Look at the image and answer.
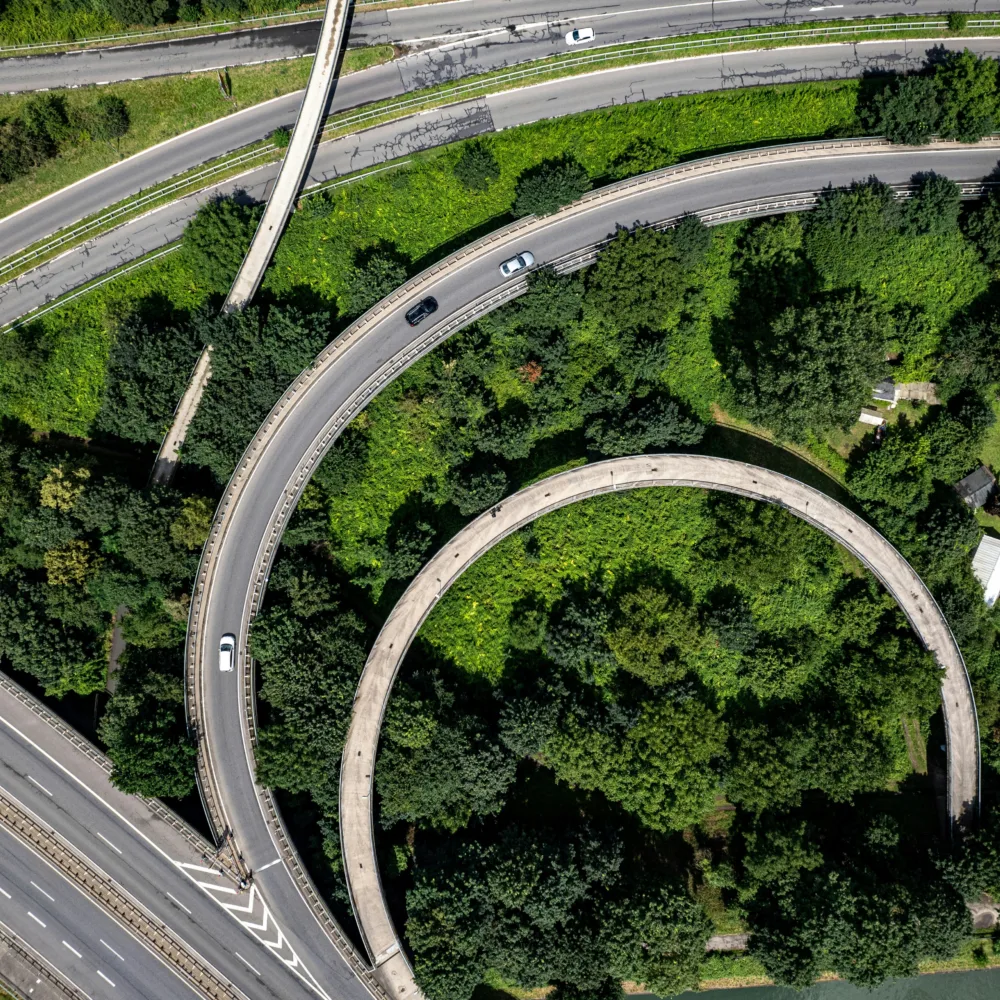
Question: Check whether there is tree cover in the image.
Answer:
Yes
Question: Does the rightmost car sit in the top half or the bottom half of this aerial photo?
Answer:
top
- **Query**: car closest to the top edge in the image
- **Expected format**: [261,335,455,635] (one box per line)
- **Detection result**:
[565,24,597,45]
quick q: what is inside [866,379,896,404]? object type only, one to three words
shed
